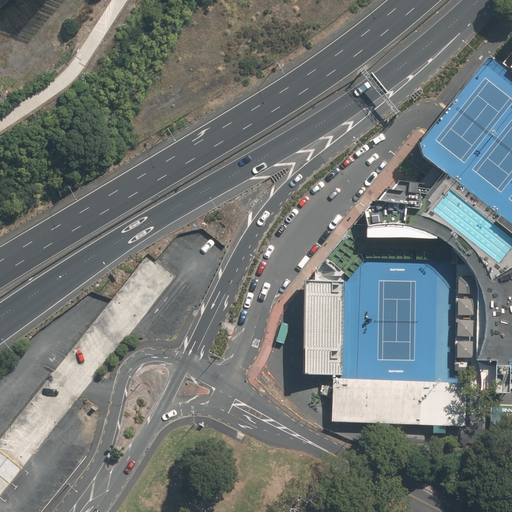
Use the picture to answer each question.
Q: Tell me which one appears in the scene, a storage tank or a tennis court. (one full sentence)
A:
The one in the frame is a tennis court.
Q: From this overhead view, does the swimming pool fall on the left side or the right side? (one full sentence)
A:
It is on the right.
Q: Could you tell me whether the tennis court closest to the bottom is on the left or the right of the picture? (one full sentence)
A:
The tennis court closest to the bottom sits on the right side.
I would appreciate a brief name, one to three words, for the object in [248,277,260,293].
vehicle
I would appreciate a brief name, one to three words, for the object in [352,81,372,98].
vehicle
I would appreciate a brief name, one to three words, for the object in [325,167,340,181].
car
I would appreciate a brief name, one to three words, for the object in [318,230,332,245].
car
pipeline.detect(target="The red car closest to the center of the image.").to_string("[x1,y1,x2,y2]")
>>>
[255,261,267,277]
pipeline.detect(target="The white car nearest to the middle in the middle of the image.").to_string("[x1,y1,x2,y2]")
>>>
[262,244,276,260]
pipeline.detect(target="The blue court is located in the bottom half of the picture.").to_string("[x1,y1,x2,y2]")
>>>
[375,280,415,360]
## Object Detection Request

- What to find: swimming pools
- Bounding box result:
[432,190,512,264]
